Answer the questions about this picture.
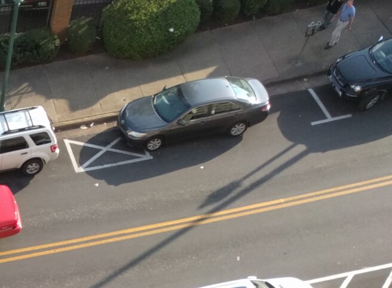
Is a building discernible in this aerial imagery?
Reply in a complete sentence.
No, there isn't any building down there.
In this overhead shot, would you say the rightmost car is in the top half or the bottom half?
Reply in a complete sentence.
It is in the top half that the rightmost car appears.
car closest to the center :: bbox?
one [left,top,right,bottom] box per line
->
[116,74,274,150]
